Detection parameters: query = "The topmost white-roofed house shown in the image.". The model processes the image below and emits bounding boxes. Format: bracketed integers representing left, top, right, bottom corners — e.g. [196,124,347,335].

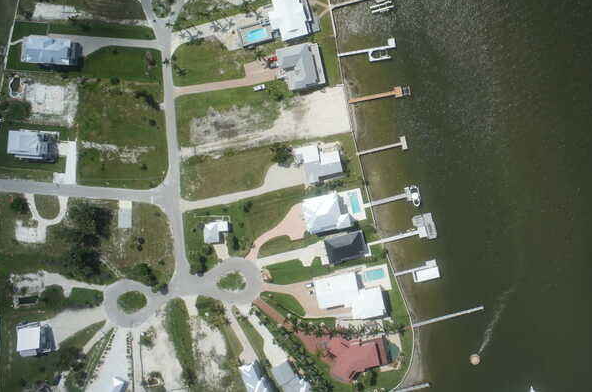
[268,0,320,41]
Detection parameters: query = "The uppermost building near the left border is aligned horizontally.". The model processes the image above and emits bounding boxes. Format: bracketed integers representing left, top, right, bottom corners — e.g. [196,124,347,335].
[19,35,85,66]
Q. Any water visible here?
Yes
